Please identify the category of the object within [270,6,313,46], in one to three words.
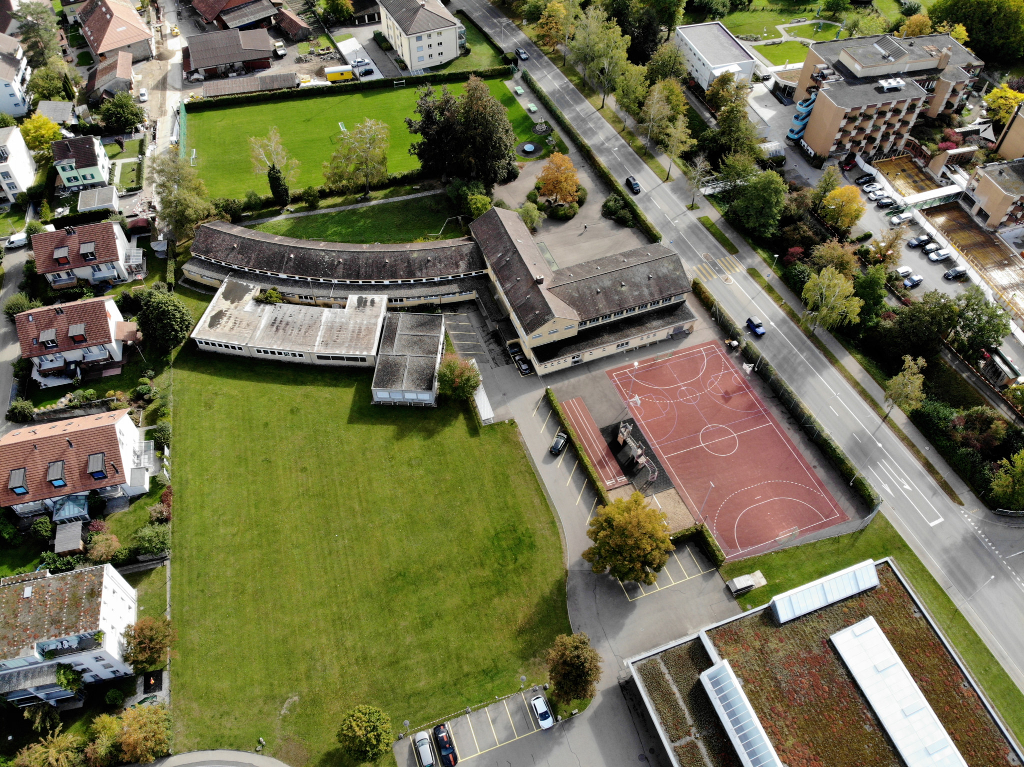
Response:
barn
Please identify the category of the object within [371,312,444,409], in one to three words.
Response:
building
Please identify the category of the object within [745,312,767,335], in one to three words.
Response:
car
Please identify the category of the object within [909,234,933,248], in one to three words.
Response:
car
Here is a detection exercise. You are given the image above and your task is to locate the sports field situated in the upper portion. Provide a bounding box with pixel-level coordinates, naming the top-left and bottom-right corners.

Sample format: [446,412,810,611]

[184,76,568,202]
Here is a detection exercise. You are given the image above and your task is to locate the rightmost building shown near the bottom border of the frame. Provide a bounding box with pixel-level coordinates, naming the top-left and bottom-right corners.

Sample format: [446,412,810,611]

[618,554,1024,767]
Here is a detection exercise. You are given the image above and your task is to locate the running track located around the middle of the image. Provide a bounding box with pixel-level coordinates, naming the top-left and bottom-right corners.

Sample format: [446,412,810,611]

[560,397,629,490]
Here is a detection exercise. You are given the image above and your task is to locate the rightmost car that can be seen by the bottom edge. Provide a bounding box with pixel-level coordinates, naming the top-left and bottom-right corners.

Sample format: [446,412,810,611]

[531,697,553,733]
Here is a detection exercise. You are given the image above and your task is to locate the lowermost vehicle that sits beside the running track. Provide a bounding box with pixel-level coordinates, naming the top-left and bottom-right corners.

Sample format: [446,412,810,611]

[549,431,567,454]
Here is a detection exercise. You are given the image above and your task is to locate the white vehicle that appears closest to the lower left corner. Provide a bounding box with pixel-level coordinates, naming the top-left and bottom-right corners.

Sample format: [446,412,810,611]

[416,730,436,767]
